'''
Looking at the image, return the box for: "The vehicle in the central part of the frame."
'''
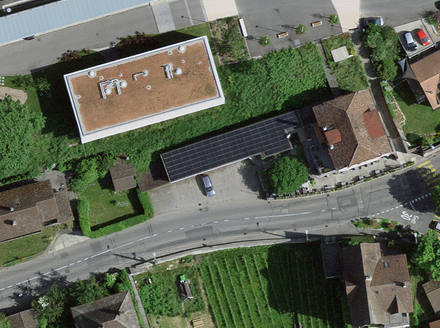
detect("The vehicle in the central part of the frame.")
[202,175,216,198]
